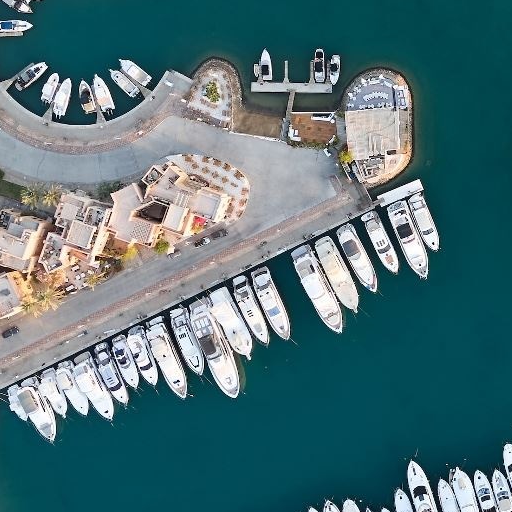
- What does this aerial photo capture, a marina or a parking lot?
marina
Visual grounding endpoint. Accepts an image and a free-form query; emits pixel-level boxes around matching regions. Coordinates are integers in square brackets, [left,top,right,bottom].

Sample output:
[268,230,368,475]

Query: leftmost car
[1,325,20,339]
